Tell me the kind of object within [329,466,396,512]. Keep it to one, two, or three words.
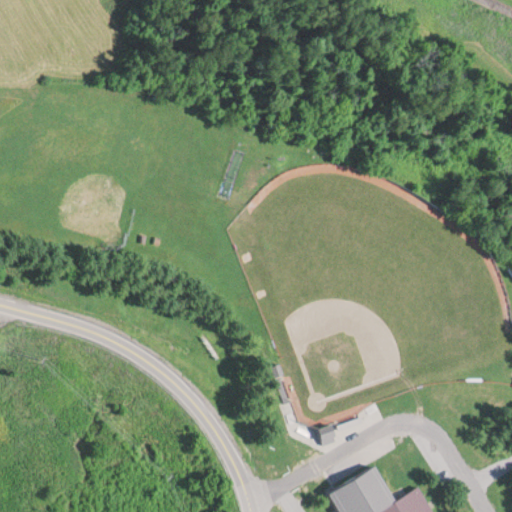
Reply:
building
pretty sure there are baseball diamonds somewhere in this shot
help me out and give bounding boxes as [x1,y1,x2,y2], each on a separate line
[228,164,512,428]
